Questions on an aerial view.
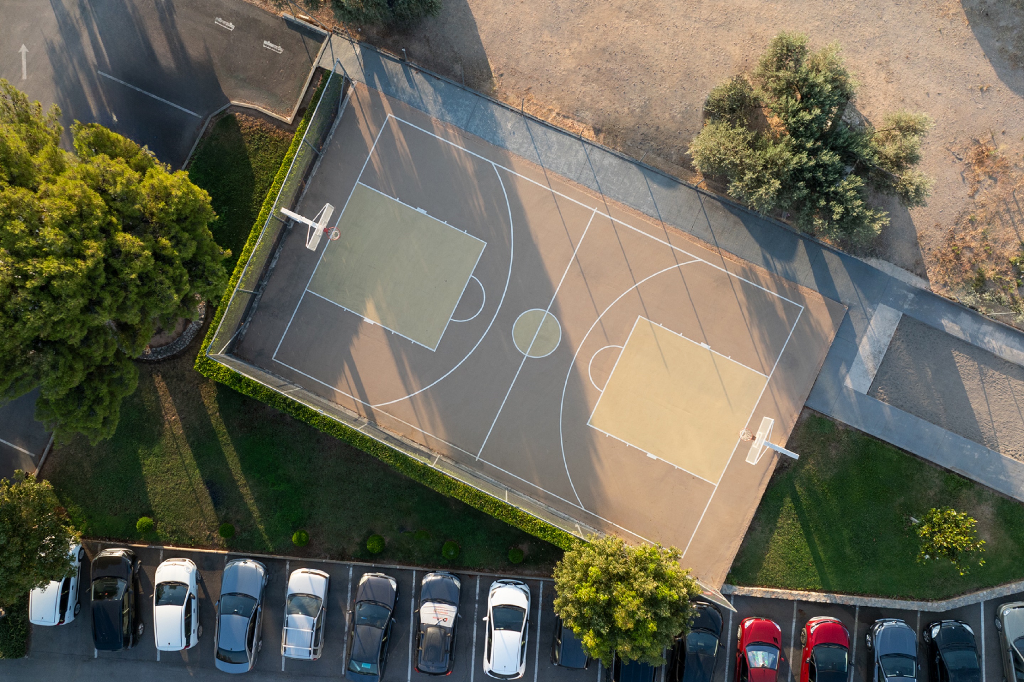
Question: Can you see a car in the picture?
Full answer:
Yes, there is a car in the image.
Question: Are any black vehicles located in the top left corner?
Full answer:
No, no black vehicle is visible in the top left corner.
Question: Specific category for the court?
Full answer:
The court can be classified as a basketball court.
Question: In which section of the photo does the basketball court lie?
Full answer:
The basketball court is located in the center region of the scene.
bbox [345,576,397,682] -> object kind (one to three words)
car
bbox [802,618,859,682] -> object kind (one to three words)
car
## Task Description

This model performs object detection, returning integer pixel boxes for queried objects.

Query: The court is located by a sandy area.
[237,83,847,589]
